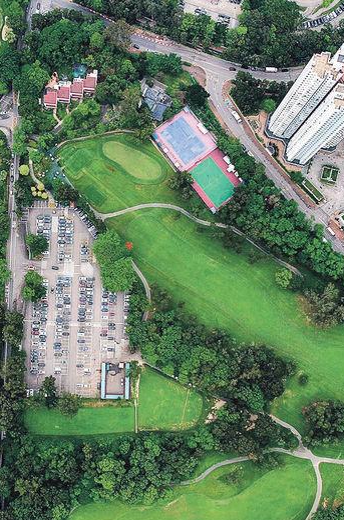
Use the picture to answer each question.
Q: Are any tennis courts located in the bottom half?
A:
No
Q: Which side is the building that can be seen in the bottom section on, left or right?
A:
left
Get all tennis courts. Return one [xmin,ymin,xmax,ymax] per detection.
[152,105,219,172]
[183,147,243,215]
